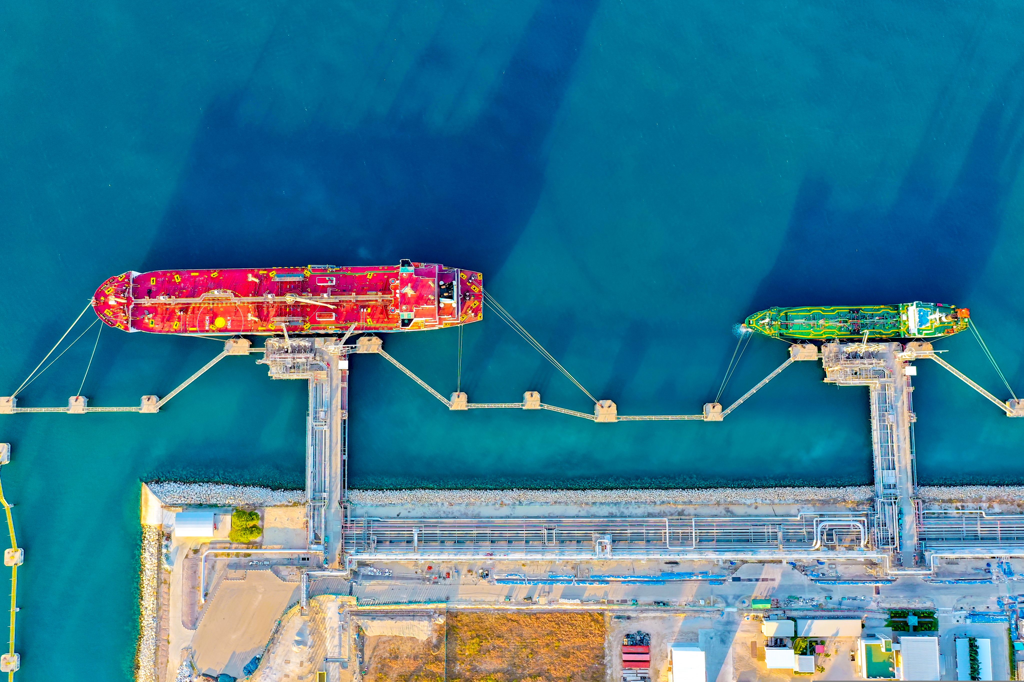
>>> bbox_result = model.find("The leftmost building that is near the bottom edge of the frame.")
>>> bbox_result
[667,644,706,682]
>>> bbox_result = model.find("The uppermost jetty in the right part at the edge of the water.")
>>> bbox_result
[819,334,912,391]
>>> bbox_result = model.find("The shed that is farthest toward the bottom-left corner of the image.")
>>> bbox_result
[173,512,217,536]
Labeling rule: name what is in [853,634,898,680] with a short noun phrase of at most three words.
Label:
building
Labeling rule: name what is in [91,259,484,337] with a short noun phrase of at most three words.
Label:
ship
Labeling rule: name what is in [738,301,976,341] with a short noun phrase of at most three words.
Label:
ship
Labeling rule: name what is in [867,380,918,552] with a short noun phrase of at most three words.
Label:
bridge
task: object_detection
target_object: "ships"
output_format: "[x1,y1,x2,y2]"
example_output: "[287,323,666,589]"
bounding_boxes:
[91,259,484,337]
[738,301,976,341]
